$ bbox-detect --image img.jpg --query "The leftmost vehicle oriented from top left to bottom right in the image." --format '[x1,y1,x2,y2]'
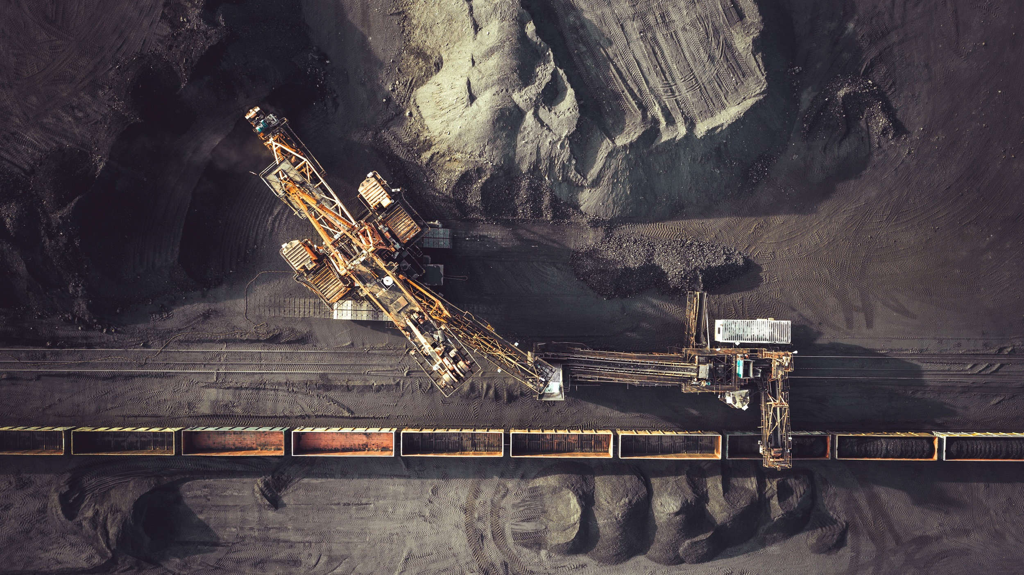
[239,102,556,397]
